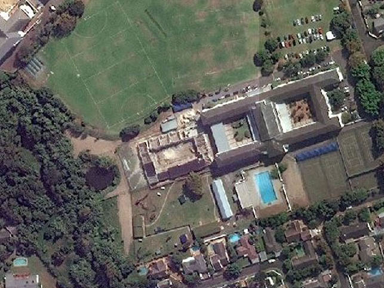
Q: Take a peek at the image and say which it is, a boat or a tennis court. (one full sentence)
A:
There is a tennis court in the scene.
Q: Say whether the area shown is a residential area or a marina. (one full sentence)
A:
It's a residential area.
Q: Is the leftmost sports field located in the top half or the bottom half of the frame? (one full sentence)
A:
The top half of the photo is where the leftmost sports field is.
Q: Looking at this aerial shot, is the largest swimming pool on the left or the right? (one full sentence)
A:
It is on the right.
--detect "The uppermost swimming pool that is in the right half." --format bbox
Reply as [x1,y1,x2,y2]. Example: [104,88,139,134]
[236,163,285,209]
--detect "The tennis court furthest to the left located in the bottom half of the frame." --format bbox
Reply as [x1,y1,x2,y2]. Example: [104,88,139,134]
[296,150,346,202]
